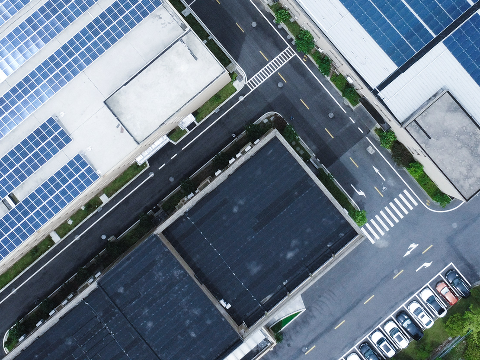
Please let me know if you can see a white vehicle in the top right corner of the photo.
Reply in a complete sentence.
No, in the top right corner of the photo there is no white vehicle.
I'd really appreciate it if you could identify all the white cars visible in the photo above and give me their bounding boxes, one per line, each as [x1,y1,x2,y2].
[372,332,401,360]
[421,290,449,321]
[348,354,363,360]
[384,321,412,352]
[409,299,437,331]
